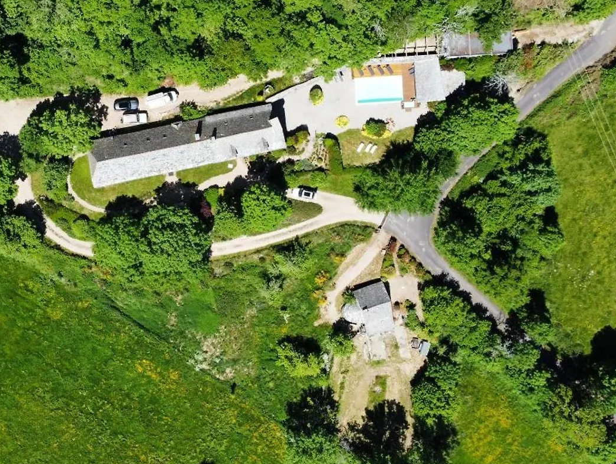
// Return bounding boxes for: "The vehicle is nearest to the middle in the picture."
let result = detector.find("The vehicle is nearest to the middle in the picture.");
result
[287,185,316,200]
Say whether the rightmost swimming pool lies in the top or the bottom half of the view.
top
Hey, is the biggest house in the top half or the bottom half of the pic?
top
